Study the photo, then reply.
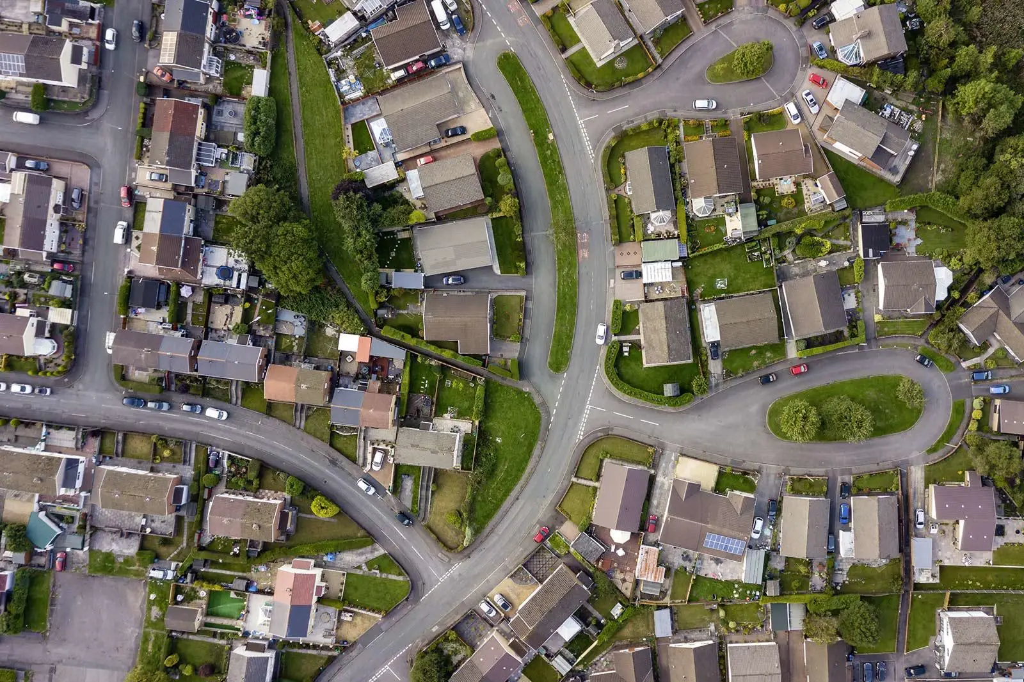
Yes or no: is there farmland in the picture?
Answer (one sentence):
No, farmland can't be seen anywhere here.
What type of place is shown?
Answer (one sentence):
The picture captures a residential area.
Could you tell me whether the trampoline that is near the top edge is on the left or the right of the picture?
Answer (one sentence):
The trampoline that is near the top edge sits on the left side.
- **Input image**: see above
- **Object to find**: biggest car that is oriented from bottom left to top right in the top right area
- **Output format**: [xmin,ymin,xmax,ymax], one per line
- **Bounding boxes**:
[810,12,833,31]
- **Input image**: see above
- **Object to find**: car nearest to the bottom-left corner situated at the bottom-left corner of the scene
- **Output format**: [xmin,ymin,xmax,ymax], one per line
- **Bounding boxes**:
[54,550,67,572]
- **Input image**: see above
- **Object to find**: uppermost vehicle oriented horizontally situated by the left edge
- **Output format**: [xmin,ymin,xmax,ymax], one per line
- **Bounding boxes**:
[12,110,42,125]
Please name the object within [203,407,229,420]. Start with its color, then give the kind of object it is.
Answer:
white vehicle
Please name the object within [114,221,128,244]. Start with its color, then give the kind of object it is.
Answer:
white car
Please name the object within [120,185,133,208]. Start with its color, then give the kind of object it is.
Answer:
red vehicle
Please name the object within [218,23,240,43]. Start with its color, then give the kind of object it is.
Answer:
black trampoline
